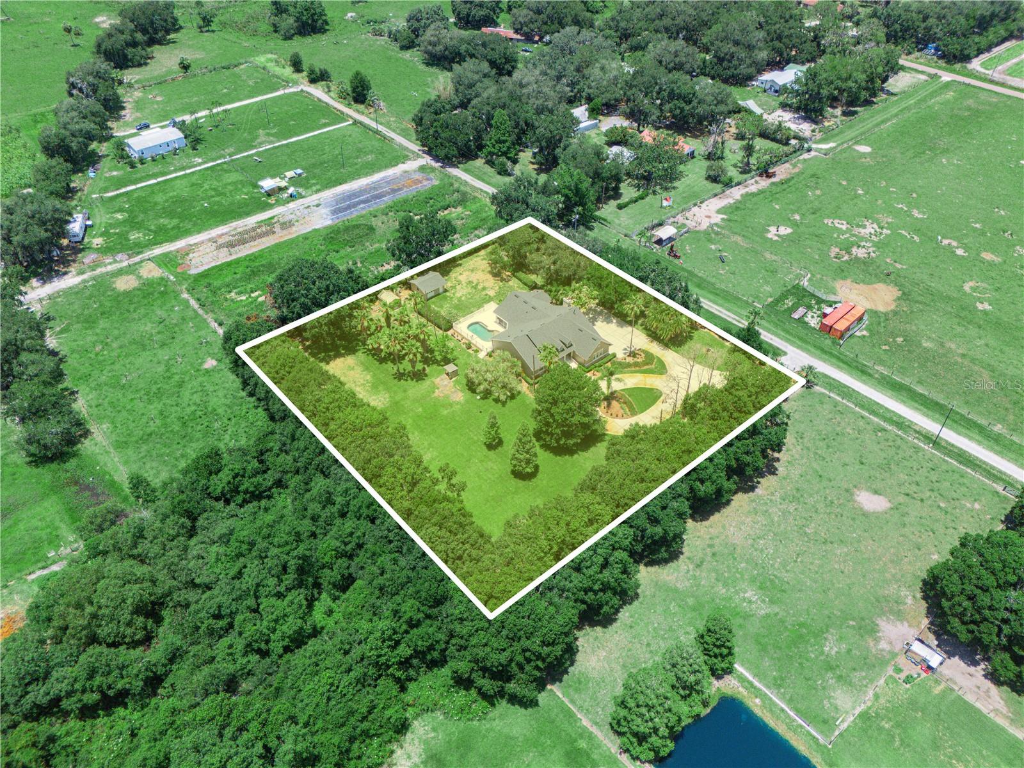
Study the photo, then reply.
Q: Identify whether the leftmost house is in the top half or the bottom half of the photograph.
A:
top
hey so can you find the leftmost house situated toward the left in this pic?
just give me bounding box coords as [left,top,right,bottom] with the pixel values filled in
[125,130,185,159]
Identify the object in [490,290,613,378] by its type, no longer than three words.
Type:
house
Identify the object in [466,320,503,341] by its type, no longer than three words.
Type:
swimming pool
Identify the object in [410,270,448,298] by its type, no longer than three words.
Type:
shed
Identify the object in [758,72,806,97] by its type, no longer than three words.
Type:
house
